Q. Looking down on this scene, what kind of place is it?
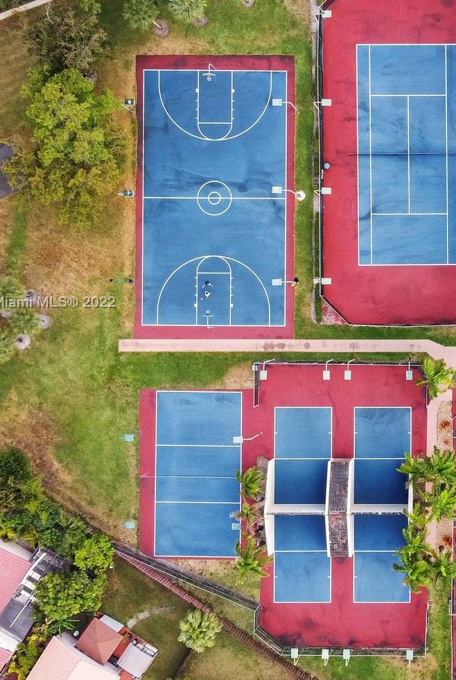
sports ground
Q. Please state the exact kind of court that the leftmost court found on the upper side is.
basketball court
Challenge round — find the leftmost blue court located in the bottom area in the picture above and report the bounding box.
[140,390,253,560]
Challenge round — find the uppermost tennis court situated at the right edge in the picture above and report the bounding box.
[323,0,456,324]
